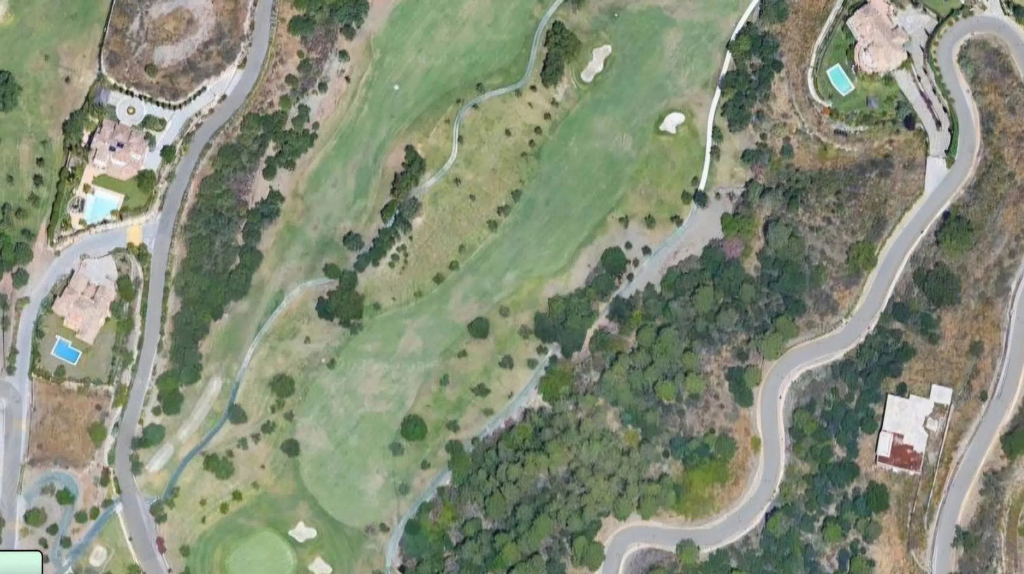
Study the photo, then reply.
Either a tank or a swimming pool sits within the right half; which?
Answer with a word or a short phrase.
swimming pool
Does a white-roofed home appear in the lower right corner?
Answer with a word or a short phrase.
Yes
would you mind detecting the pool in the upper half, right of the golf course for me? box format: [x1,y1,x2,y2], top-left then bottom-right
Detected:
[826,63,854,96]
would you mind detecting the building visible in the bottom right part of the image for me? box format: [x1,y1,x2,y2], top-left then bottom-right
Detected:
[877,384,954,472]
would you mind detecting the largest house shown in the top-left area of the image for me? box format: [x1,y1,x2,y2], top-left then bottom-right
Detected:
[88,118,149,181]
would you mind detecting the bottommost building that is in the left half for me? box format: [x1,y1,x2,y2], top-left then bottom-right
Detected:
[49,271,115,346]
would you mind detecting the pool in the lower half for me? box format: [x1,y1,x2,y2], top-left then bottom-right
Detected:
[51,335,82,365]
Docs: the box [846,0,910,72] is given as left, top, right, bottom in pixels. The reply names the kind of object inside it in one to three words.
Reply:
house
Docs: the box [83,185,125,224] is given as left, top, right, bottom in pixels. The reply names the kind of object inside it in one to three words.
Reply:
swimming pool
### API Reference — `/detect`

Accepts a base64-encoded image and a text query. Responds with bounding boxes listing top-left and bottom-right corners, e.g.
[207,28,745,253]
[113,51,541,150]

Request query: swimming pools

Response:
[83,185,125,224]
[826,63,854,96]
[51,335,82,365]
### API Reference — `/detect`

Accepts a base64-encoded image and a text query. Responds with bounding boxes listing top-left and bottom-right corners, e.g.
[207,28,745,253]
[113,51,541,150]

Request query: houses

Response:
[88,118,149,181]
[877,384,954,472]
[49,271,115,346]
[846,0,910,72]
